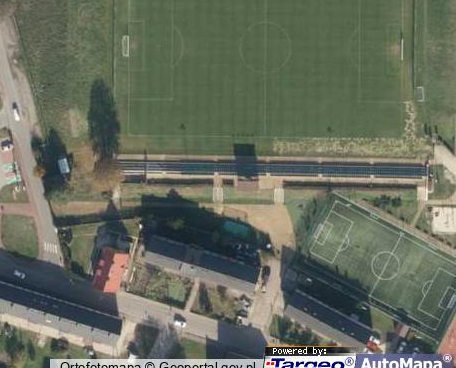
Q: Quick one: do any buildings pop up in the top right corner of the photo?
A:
No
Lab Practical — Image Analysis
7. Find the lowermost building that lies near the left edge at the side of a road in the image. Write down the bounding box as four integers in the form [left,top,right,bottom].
[0,280,124,346]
